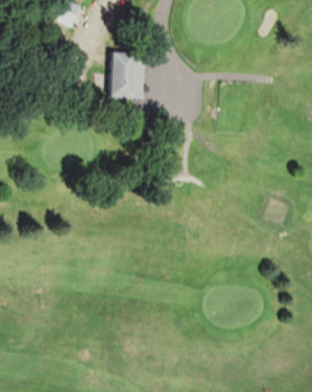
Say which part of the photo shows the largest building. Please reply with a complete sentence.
You can find the largest building in the top area of the picture.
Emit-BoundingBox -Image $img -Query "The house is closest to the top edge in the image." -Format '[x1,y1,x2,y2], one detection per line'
[59,2,81,30]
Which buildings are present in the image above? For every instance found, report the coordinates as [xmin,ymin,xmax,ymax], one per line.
[59,2,81,30]
[111,52,144,100]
